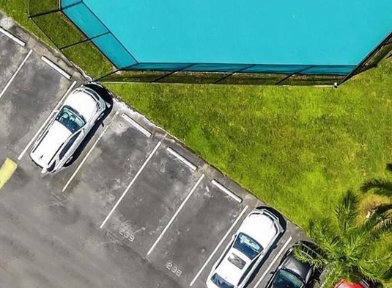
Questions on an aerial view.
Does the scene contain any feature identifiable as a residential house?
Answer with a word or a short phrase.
No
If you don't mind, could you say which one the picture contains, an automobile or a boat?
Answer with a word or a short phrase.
automobile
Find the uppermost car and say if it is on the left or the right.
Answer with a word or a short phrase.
left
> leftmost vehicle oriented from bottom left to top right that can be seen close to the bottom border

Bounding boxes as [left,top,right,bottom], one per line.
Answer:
[207,208,283,288]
